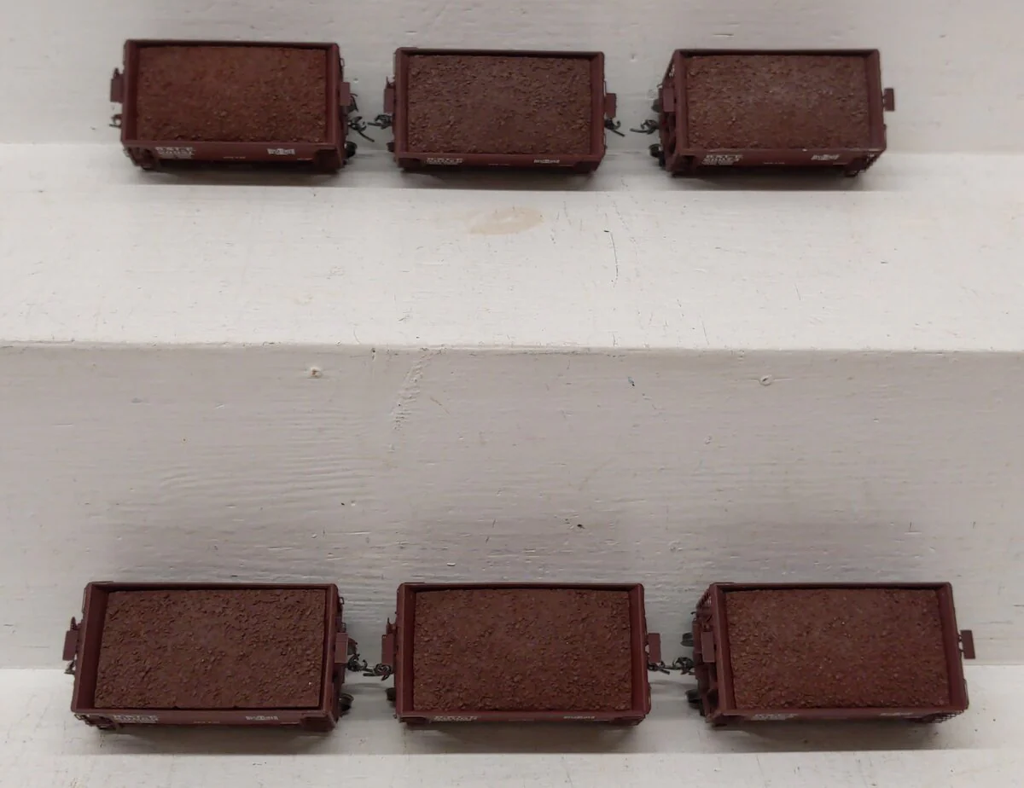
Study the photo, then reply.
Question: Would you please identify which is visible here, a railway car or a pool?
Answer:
railway car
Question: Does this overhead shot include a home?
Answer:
No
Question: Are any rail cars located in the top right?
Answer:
Yes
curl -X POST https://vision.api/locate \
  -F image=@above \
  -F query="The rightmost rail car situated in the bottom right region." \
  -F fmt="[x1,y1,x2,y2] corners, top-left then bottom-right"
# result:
[663,584,978,725]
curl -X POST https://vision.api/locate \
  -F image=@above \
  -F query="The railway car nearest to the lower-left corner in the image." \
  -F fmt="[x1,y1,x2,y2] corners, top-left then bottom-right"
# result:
[62,584,376,726]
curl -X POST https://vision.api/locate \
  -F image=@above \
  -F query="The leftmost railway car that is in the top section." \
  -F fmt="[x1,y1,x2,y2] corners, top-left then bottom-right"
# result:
[111,44,374,170]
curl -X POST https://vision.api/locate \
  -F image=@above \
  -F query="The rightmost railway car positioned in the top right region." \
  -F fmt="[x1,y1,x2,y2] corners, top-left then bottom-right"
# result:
[635,52,897,175]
